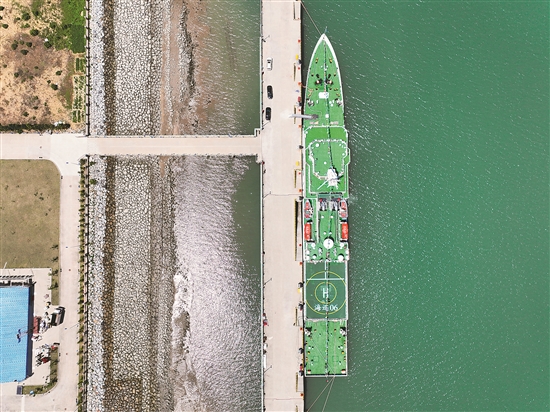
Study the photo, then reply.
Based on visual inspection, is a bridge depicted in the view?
Yes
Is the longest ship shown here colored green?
Yes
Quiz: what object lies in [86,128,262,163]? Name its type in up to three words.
bridge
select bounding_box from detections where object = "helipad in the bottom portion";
[303,262,348,321]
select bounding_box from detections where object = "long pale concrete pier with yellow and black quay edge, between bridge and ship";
[262,0,303,412]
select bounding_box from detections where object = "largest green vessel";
[302,28,351,382]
